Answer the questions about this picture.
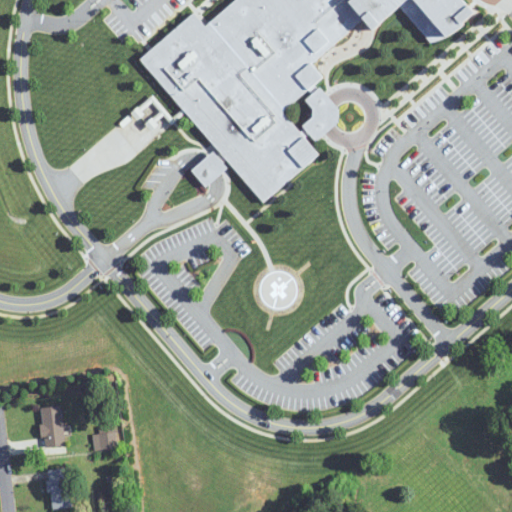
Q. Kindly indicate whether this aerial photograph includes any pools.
No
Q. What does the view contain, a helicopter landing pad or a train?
helicopter landing pad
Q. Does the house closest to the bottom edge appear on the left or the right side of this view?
left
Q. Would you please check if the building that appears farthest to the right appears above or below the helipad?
above it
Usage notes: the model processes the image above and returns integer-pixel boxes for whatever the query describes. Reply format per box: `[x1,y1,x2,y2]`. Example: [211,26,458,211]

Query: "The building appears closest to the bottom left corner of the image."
[47,470,67,510]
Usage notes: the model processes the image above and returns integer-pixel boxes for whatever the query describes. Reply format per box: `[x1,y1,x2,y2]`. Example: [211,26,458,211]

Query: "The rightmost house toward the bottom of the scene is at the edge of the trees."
[92,431,120,452]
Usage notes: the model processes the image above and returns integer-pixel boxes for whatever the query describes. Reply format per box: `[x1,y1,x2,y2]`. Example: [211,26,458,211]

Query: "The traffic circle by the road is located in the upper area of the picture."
[327,92,376,146]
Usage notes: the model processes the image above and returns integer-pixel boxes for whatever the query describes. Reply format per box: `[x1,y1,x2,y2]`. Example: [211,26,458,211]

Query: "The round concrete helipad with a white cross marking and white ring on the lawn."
[253,263,311,329]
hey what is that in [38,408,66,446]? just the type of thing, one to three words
house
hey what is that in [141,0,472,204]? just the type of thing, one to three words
building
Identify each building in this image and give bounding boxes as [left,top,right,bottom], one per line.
[38,408,66,446]
[141,0,472,204]
[47,470,67,510]
[92,431,120,452]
